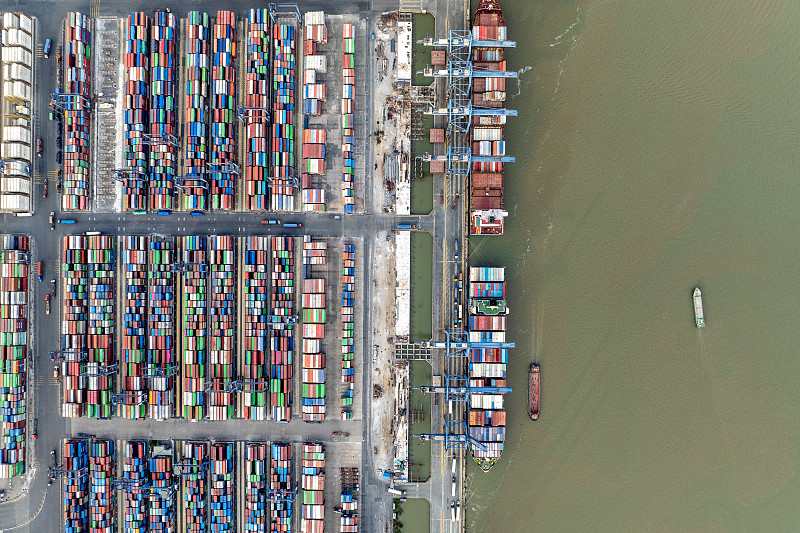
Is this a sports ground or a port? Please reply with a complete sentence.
What you see here is a port.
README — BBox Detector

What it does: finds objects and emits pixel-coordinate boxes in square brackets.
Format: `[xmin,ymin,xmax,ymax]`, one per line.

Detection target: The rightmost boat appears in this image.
[691,288,705,327]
